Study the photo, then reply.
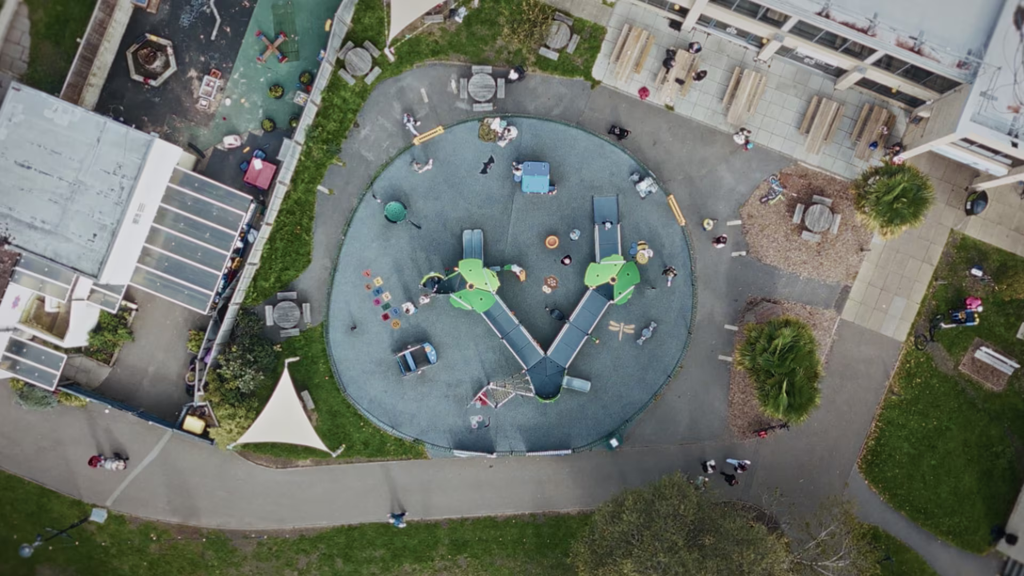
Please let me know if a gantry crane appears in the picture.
No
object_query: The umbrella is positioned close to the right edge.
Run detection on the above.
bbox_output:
[960,188,986,218]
